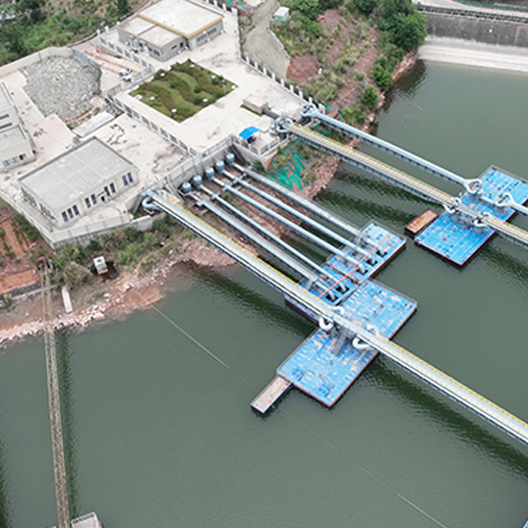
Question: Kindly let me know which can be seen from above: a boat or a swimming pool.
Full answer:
This aerial view contains a boat.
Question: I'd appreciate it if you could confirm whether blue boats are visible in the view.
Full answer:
No, there is no blue boat in the image.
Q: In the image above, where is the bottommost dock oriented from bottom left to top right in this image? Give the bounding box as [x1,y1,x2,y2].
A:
[279,276,417,410]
